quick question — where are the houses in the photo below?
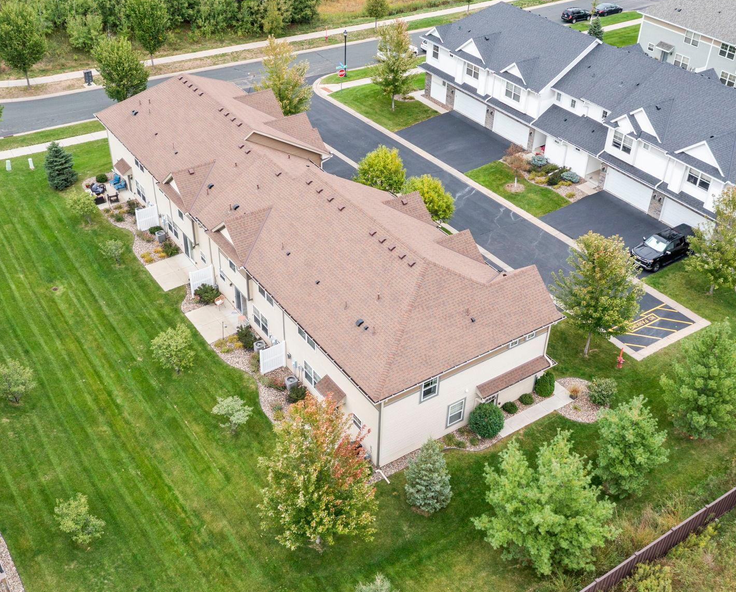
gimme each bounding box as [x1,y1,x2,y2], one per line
[97,74,572,483]
[414,1,736,259]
